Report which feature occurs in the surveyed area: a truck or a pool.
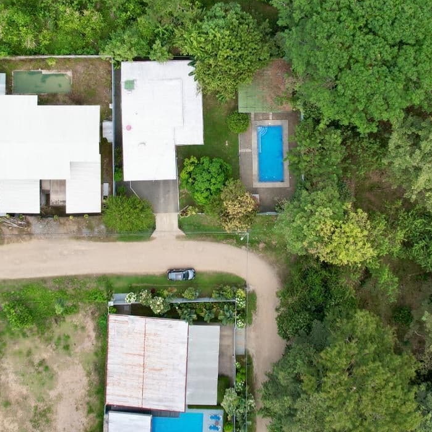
pool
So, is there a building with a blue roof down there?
No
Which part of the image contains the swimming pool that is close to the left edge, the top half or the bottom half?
top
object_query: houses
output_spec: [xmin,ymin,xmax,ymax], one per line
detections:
[0,73,102,217]
[121,60,203,182]
[106,313,220,432]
